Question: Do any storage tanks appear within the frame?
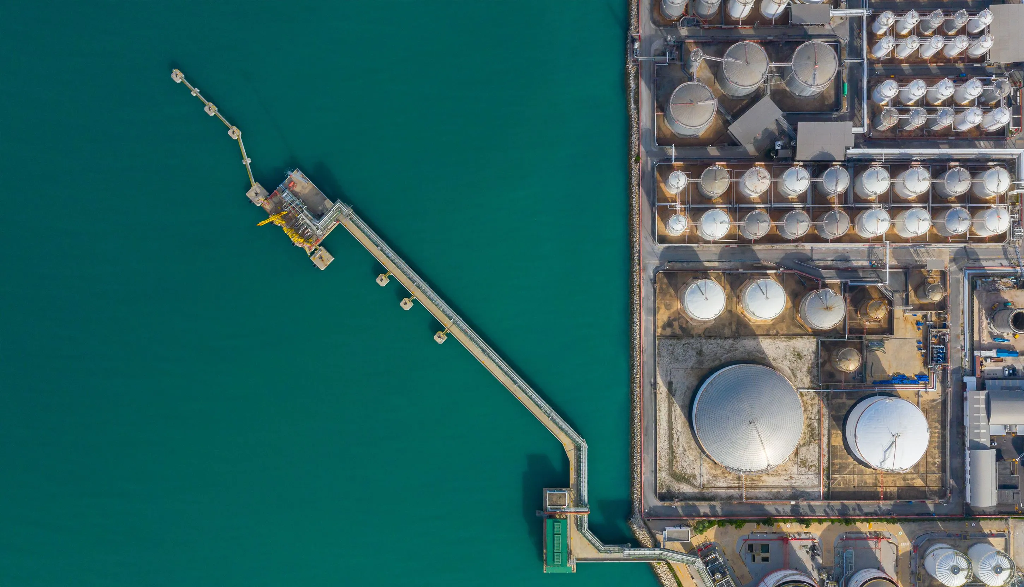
Yes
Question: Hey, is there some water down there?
Yes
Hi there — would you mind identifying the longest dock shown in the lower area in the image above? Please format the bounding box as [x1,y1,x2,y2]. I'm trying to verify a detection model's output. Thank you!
[339,210,665,563]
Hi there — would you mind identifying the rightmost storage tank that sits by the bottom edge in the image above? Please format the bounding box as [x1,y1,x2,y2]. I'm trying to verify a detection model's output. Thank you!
[964,541,1020,587]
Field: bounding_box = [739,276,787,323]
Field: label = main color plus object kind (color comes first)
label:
white storage tank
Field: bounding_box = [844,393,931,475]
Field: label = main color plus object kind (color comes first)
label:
white storage tank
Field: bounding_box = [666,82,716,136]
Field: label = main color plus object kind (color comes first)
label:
gray storage tank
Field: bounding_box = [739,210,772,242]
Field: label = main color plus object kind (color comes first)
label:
gray storage tank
